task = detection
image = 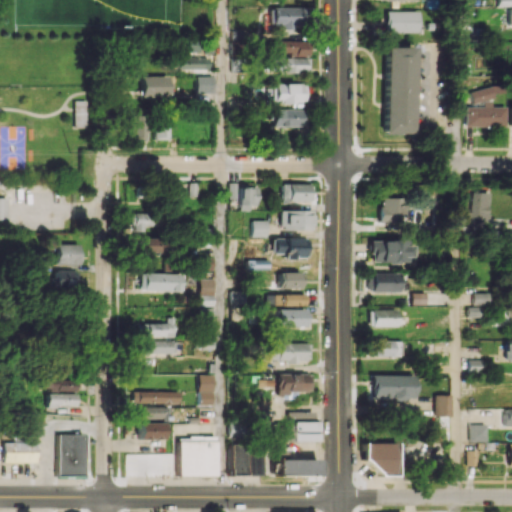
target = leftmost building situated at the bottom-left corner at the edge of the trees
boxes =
[4,442,41,465]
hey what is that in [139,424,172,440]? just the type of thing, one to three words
house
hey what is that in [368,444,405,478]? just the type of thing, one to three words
building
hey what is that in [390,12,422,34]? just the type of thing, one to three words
building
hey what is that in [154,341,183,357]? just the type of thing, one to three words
house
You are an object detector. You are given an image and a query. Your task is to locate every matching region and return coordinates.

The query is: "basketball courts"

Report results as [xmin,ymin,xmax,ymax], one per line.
[0,125,27,173]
